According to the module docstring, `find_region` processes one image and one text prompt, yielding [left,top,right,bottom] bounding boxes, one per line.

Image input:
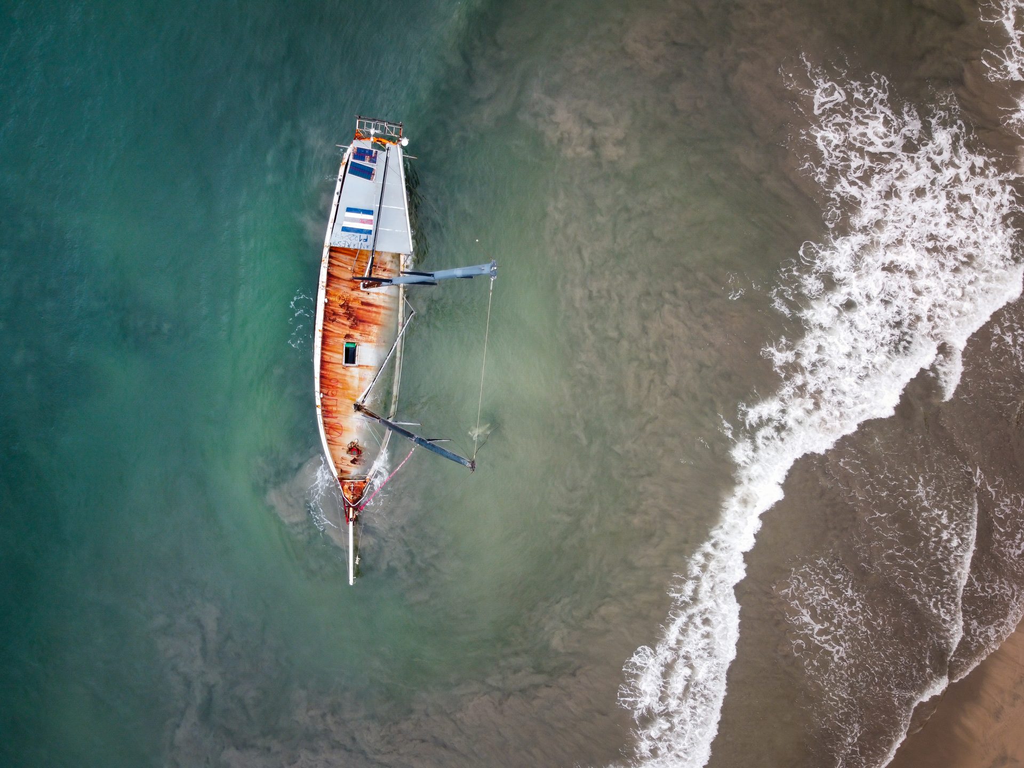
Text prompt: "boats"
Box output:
[314,116,508,585]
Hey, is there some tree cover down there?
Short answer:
No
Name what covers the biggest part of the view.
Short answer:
water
